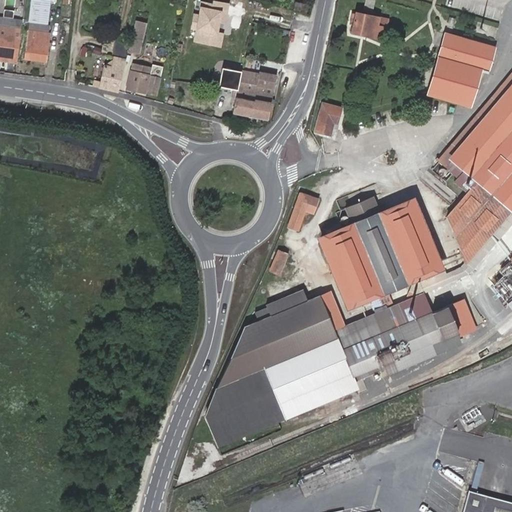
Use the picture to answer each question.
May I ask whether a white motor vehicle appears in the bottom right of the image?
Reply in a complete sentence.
Yes, a white motor vehicle shows up in the bottom right of the image.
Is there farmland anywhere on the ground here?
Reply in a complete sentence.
No, farmland can't be seen anywhere here.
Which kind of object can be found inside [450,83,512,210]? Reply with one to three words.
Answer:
building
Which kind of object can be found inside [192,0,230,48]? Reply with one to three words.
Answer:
house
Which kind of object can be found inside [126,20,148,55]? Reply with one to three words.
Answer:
shed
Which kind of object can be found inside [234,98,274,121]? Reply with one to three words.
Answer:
house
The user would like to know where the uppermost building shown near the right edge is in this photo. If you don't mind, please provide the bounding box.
[428,30,498,108]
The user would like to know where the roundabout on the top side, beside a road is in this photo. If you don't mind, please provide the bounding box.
[170,142,282,254]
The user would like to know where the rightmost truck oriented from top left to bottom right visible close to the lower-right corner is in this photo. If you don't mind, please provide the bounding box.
[434,461,466,486]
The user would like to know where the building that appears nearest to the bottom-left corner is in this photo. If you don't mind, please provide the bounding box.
[204,368,286,450]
